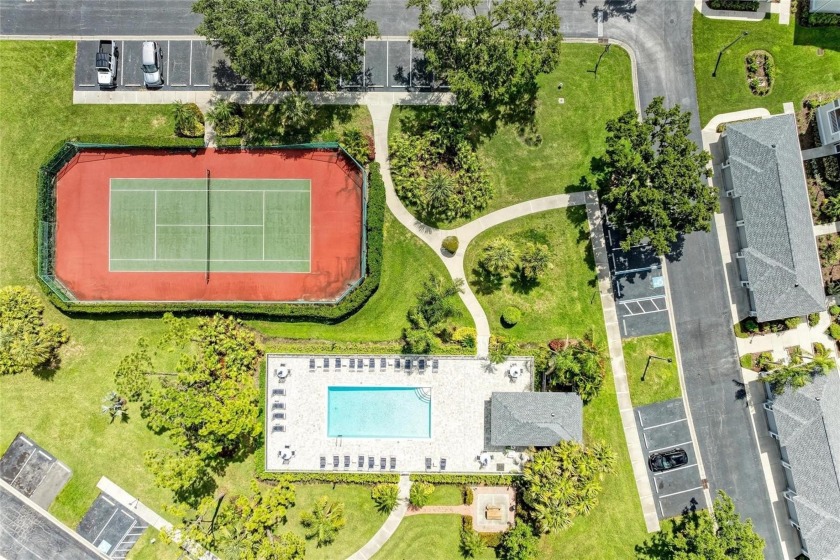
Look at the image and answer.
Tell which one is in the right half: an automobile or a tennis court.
automobile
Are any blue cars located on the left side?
No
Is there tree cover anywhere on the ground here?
Yes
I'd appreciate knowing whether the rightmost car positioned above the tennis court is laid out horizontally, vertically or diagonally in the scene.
vertically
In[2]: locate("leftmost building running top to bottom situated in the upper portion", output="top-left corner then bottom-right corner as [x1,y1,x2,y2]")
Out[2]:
[719,115,828,323]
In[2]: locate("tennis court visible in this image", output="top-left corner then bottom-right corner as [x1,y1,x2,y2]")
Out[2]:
[56,149,363,301]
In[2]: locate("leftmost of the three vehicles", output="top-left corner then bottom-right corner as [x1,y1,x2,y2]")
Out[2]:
[95,39,119,88]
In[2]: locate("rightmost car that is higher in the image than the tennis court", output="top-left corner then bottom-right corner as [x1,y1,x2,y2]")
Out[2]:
[142,45,164,89]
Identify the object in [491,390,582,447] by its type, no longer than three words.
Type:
building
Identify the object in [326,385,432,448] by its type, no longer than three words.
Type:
swimming pool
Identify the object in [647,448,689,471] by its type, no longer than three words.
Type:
car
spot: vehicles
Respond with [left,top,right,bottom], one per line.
[95,39,119,88]
[142,45,164,89]
[647,448,689,471]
